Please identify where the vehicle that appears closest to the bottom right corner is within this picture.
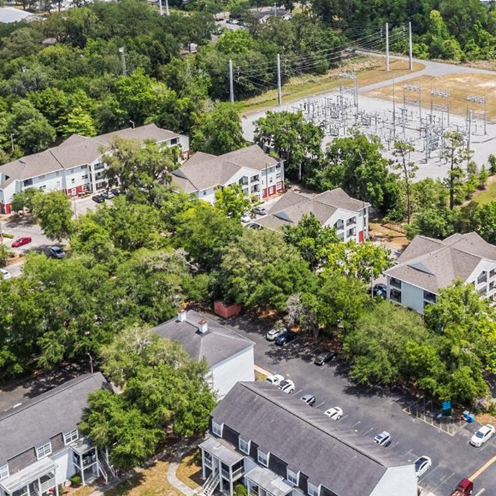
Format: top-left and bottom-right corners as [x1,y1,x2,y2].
[444,469,477,496]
